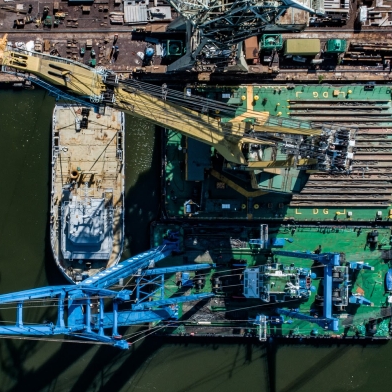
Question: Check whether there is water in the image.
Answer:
Yes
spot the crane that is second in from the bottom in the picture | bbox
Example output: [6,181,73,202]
[0,41,392,226]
